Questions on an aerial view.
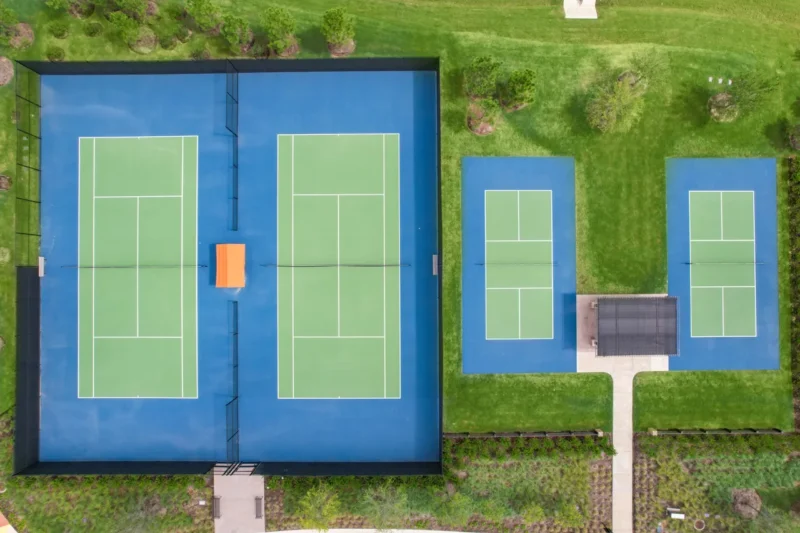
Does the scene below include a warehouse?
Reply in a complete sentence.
No, no warehouse is visible in the scene.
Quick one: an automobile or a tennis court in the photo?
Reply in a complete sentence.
The image shows a tennis court.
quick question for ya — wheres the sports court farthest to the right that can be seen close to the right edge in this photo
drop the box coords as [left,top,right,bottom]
[666,158,780,371]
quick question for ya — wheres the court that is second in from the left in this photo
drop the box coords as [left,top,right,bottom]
[238,70,439,462]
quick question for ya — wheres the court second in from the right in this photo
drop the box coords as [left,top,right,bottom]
[462,157,577,374]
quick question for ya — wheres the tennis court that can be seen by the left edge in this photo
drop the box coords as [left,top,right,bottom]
[39,72,238,462]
